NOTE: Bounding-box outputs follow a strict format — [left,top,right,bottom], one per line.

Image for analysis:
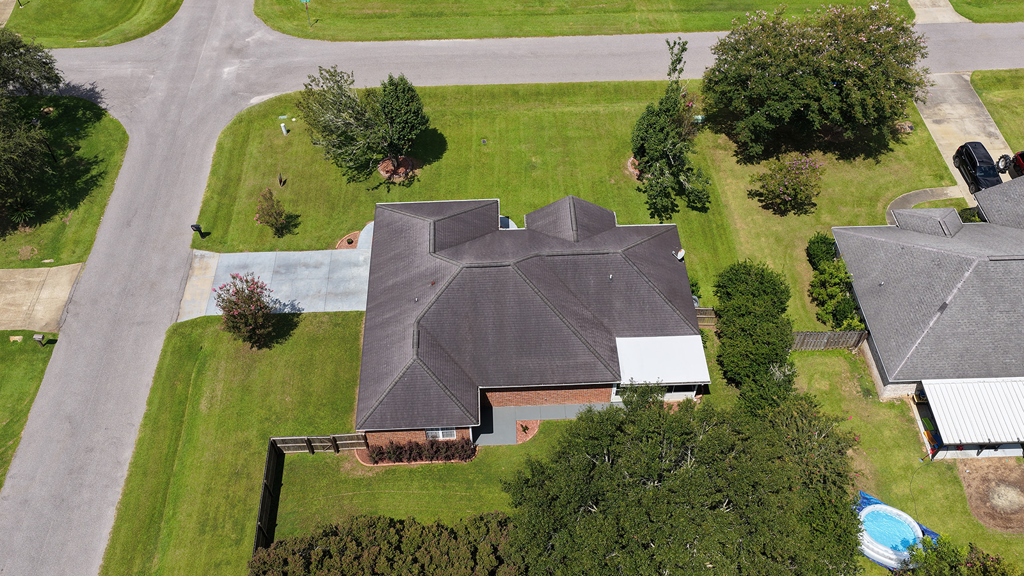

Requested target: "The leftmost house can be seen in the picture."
[355,195,709,446]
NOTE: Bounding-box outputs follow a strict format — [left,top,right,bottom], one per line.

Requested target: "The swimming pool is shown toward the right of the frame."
[852,502,926,567]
